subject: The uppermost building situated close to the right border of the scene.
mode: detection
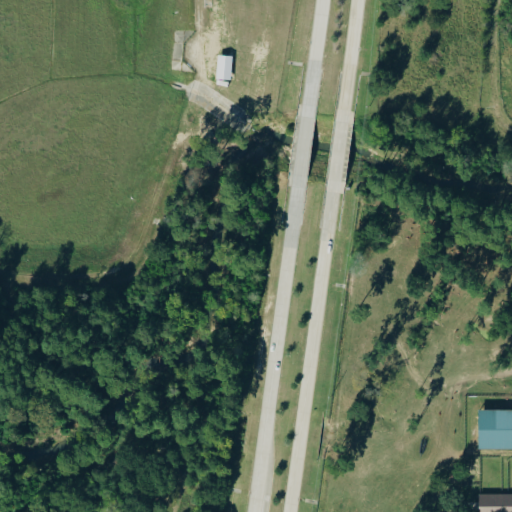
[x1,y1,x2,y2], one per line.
[478,410,512,450]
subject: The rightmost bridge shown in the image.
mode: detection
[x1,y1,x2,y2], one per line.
[325,111,355,193]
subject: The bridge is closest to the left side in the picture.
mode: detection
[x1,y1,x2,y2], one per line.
[287,104,318,187]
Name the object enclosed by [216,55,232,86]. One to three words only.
shed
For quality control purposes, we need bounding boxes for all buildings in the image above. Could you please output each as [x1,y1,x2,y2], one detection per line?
[478,410,512,450]
[216,55,232,86]
[478,494,512,512]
